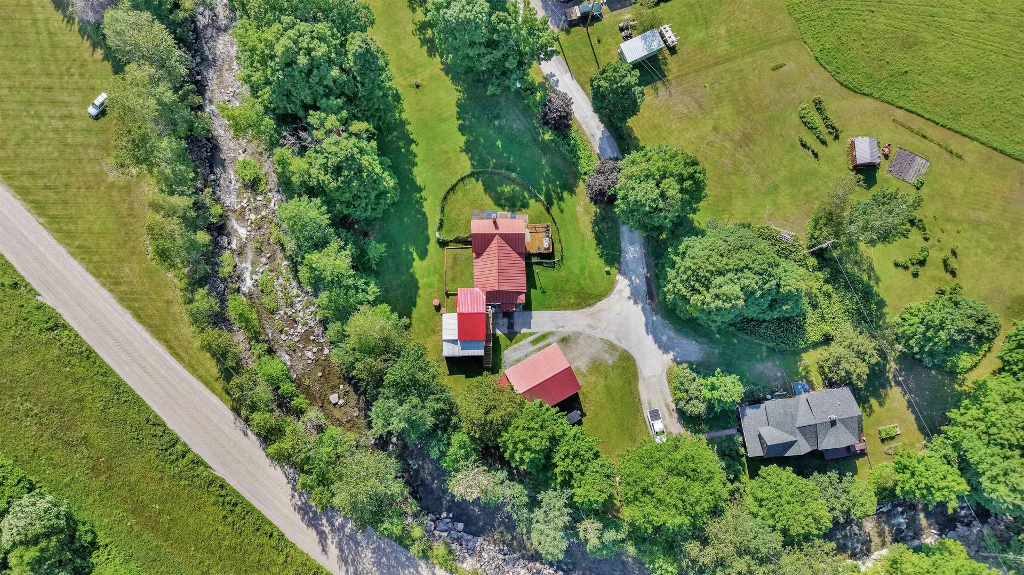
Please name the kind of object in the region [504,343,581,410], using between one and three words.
barn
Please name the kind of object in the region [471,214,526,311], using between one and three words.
house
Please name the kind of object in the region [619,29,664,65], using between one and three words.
shed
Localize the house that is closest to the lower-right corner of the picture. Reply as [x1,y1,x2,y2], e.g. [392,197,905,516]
[734,387,862,458]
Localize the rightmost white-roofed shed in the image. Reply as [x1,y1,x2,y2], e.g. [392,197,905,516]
[847,137,880,167]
